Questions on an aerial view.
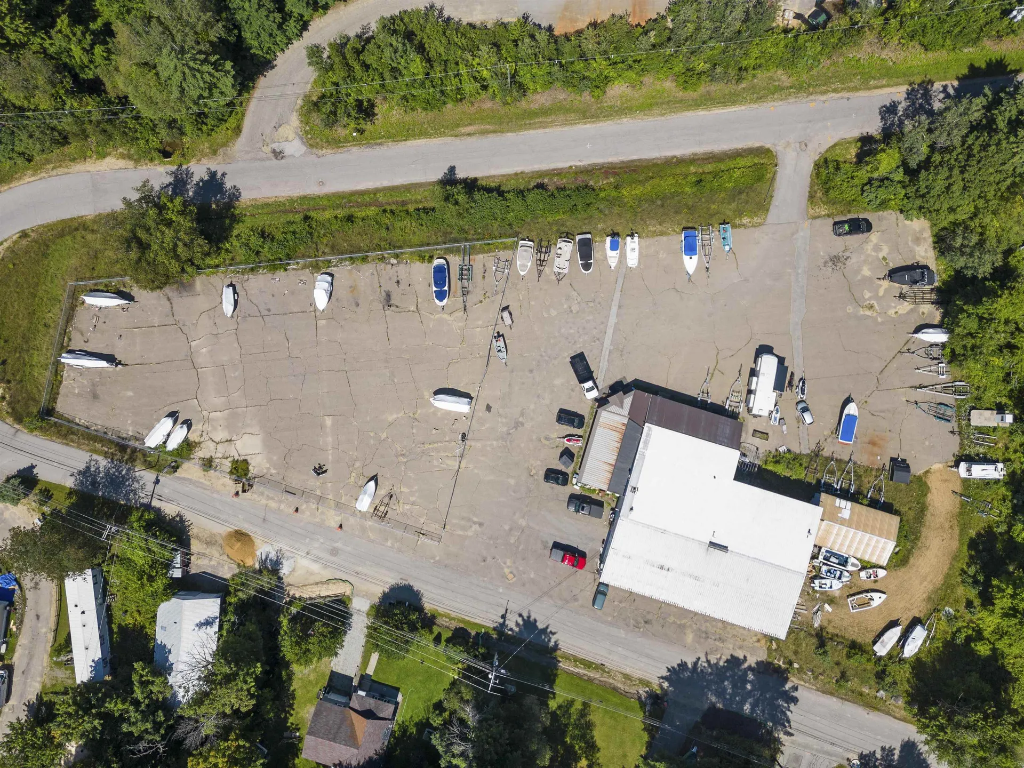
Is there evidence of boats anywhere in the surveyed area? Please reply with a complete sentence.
Yes, the image includes a boat.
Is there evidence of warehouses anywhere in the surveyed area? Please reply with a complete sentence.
Yes, this view includes a warehouse.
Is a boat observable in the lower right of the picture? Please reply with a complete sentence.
Yes, the scene does show a boat in the lower right of the picture.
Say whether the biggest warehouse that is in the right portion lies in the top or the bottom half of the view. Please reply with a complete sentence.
The biggest warehouse that is in the right portion sits in the bottom half of the picture.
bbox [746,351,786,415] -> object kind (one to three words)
vehicle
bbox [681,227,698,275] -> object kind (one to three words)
boat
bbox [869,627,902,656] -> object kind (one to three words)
boat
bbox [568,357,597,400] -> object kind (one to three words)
truck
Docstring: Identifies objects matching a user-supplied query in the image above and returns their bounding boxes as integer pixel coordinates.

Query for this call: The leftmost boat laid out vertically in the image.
[223,285,236,316]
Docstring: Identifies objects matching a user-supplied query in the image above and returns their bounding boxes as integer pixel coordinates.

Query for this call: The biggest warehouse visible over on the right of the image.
[600,390,822,641]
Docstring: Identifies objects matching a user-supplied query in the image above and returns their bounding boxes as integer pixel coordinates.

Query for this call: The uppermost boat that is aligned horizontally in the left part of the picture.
[80,292,132,307]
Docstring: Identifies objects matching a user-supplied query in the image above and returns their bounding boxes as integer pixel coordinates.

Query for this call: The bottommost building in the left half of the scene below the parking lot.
[302,683,399,768]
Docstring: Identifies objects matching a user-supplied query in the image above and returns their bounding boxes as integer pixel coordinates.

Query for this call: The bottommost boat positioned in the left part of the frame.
[357,478,377,509]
